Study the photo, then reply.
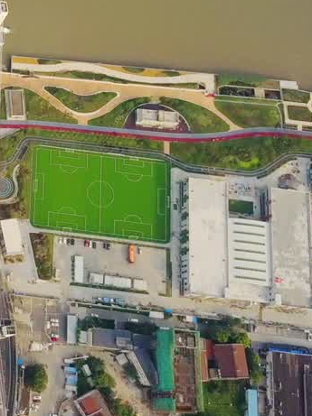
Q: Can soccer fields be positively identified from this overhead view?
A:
Yes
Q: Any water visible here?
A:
Yes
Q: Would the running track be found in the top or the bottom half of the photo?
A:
top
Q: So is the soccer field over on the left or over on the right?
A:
left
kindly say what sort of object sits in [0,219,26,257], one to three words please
building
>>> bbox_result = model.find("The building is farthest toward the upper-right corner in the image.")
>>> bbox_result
[155,109,180,131]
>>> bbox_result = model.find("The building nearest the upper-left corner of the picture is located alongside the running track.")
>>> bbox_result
[3,89,27,121]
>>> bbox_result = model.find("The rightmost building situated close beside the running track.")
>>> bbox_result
[263,188,312,309]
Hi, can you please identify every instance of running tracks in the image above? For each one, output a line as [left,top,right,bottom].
[0,121,312,142]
